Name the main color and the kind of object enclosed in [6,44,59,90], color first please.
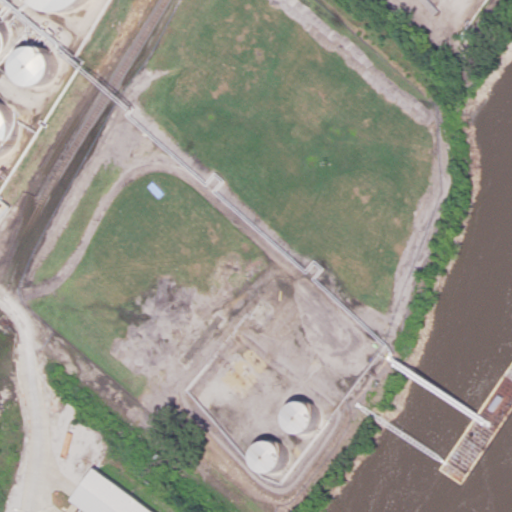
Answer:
white storage tank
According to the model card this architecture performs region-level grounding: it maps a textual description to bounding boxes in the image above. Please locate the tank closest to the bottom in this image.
[245,436,289,474]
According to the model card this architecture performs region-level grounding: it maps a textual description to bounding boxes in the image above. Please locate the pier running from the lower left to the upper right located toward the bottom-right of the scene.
[440,364,512,485]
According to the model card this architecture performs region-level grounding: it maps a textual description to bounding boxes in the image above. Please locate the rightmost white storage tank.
[278,397,322,436]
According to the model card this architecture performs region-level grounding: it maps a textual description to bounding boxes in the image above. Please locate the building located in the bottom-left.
[69,467,148,512]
